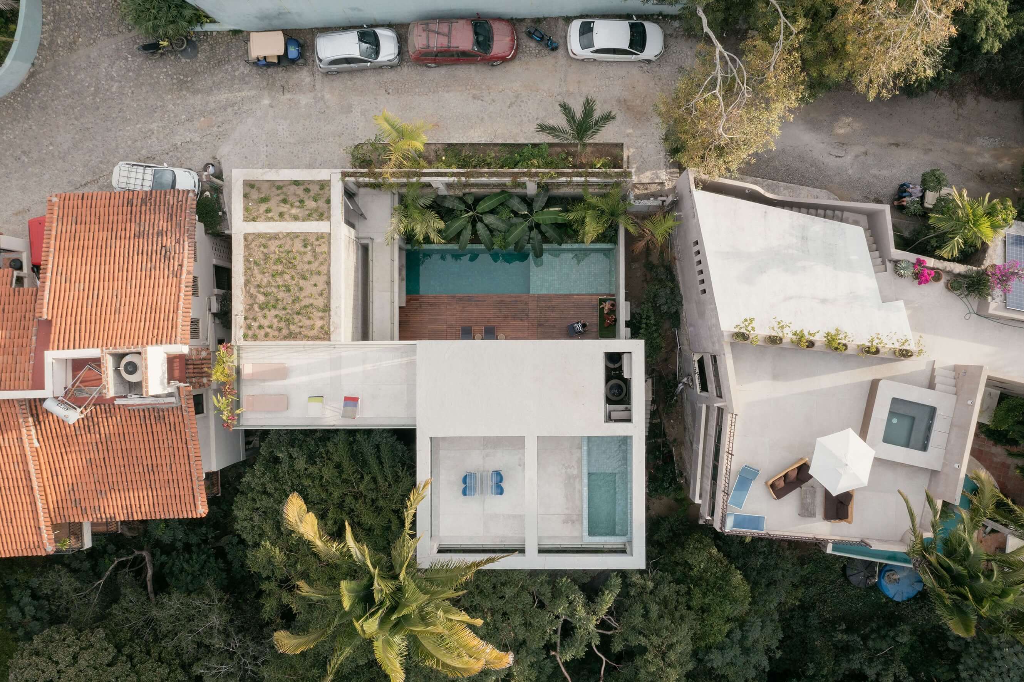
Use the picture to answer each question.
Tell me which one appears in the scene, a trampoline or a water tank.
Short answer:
water tank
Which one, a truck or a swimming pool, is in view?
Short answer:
swimming pool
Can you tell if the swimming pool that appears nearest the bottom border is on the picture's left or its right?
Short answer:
right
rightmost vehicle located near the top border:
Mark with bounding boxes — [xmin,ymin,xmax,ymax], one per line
[567,14,666,66]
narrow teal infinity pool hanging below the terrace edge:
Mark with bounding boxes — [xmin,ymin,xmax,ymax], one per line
[807,537,917,572]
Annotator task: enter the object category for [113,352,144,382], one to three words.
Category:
water tank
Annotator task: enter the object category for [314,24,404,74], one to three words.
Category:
car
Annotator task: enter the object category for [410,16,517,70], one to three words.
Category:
car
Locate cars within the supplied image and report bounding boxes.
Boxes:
[25,210,58,304]
[108,160,207,203]
[314,24,404,74]
[410,16,517,70]
[567,14,666,66]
